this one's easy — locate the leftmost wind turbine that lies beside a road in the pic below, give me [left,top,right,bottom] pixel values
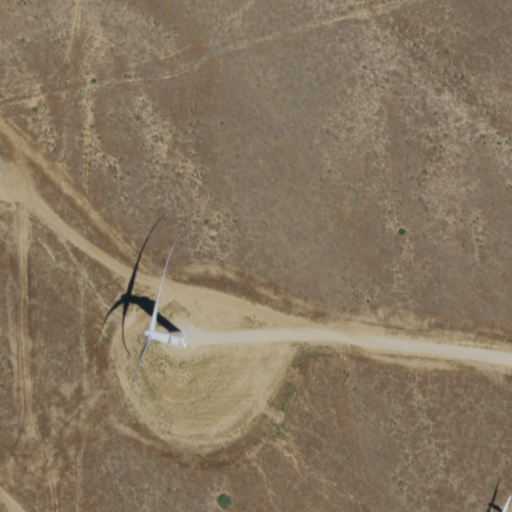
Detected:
[132,234,188,396]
